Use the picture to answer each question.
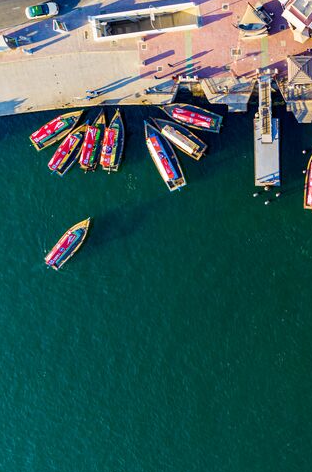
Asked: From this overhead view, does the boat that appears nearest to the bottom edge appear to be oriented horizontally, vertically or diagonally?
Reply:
diagonally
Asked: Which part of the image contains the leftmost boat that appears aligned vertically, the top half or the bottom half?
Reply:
top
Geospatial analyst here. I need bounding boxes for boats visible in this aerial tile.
[81,102,108,171]
[306,156,312,210]
[30,104,86,150]
[102,102,125,171]
[148,105,208,159]
[141,105,186,192]
[48,104,91,177]
[154,101,224,131]
[45,216,92,270]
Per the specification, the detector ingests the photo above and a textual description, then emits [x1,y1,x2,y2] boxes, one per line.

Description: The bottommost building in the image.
[287,53,312,83]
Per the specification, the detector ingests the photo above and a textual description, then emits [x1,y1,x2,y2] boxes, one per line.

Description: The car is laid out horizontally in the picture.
[25,2,59,20]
